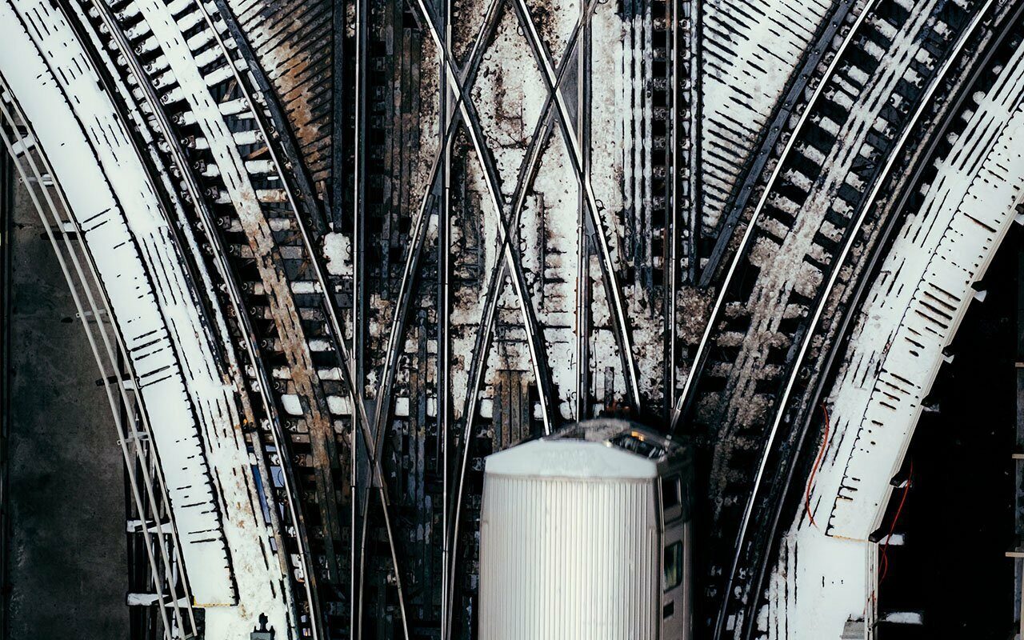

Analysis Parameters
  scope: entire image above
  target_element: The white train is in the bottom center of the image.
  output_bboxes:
[479,418,695,640]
